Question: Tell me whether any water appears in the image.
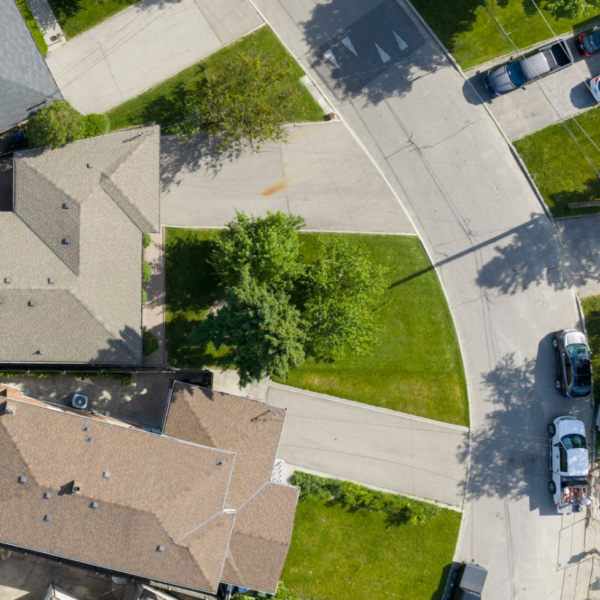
No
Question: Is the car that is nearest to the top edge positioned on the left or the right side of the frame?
right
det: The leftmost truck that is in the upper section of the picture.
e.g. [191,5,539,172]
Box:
[478,37,577,97]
